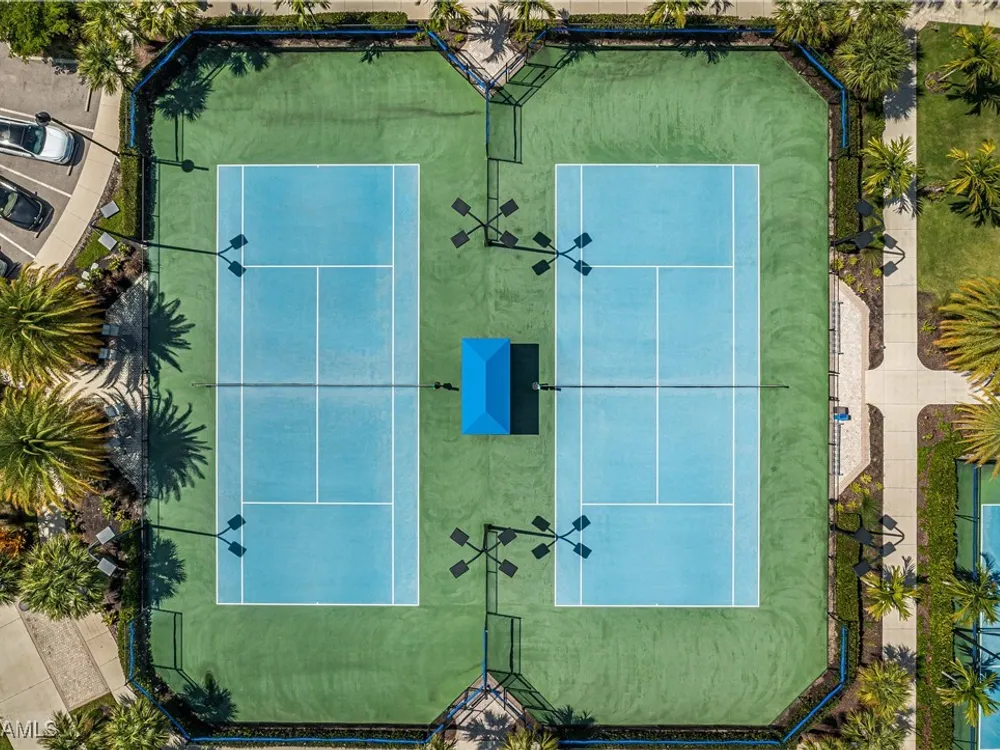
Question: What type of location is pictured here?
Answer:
sports ground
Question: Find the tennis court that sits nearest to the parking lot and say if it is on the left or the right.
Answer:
left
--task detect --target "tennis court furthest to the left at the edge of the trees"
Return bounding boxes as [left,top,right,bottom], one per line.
[148,47,487,724]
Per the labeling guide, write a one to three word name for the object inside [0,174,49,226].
car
